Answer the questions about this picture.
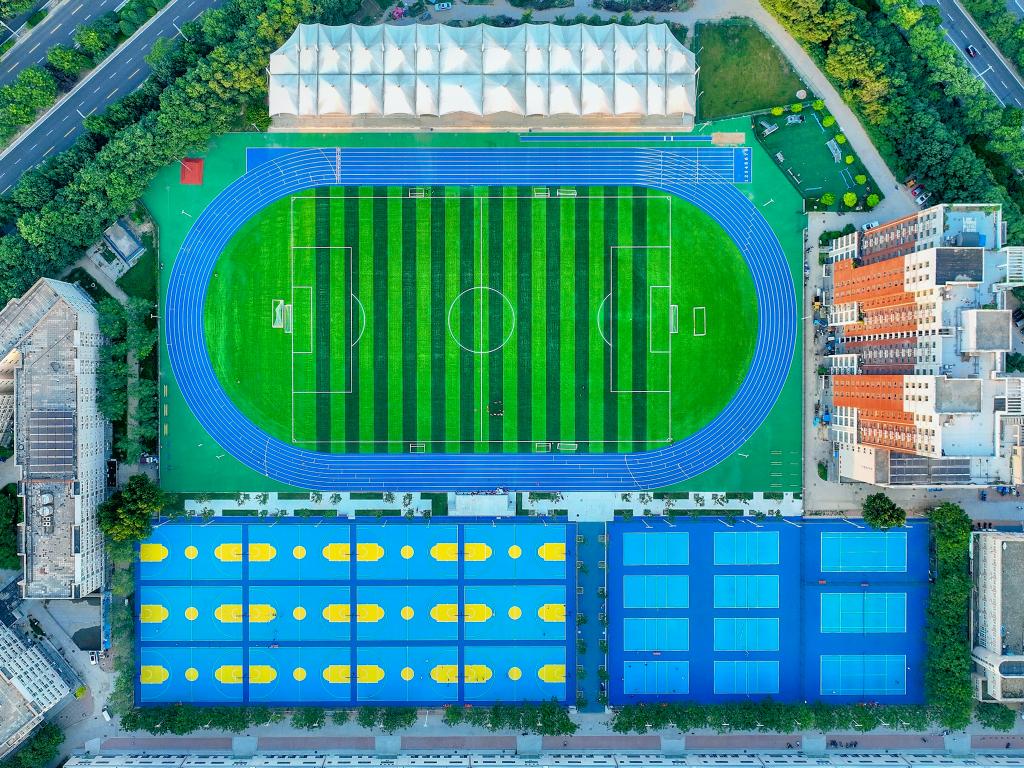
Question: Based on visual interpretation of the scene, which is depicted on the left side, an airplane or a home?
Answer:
home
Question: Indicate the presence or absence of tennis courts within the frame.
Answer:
Yes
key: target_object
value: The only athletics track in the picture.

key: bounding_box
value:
[165,147,797,491]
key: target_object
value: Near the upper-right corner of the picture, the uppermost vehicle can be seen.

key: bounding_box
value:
[965,42,980,58]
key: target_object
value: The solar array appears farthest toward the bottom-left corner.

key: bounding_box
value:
[30,411,74,471]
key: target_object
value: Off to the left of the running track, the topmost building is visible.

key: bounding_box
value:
[103,222,150,264]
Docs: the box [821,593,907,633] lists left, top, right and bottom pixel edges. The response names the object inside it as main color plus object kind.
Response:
blue tennis court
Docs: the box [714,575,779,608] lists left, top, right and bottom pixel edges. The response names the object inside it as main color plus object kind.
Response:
blue sports court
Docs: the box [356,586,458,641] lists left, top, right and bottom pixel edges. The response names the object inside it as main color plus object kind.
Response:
blue basketball court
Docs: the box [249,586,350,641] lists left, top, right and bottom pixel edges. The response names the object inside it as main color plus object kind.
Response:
blue basketball court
